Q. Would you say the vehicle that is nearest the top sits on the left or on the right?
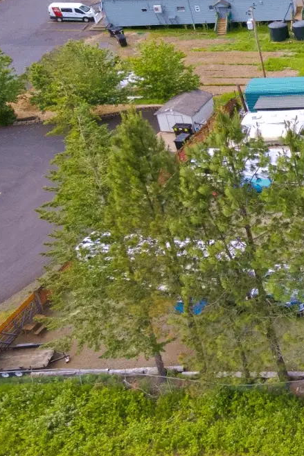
left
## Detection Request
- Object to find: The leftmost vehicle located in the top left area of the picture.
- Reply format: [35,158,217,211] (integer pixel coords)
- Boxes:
[48,0,97,22]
